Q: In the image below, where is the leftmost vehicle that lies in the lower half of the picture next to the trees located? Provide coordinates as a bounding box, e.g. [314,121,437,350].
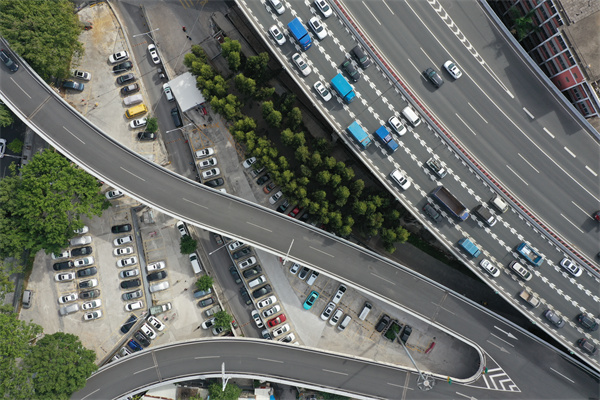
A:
[22,289,35,308]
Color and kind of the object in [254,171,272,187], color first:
black car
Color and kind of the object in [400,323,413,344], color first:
black vehicle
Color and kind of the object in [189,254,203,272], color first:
white vehicle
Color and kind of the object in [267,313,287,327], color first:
red vehicle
